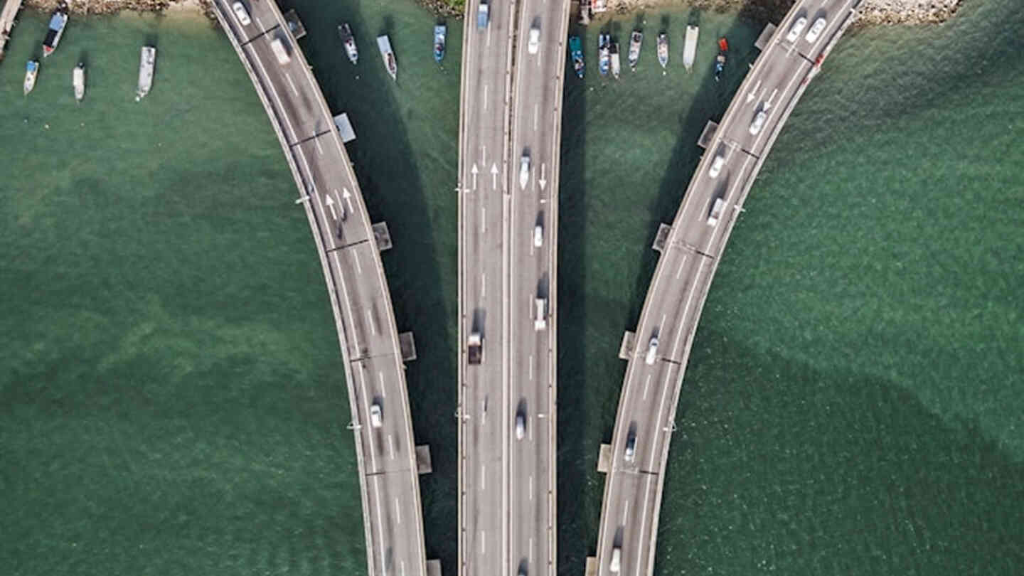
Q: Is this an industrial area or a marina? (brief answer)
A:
marina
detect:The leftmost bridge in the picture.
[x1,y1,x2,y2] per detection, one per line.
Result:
[208,0,444,576]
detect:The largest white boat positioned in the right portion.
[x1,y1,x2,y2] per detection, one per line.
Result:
[683,23,700,83]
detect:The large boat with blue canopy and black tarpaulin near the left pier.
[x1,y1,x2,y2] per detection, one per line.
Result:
[42,11,68,63]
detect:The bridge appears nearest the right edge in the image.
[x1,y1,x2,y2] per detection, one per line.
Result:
[584,0,867,576]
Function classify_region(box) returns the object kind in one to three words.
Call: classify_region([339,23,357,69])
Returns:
boat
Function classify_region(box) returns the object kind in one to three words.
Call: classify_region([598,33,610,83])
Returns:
boat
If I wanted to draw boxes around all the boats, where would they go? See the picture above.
[598,33,610,83]
[134,44,155,103]
[377,33,399,90]
[434,24,446,71]
[42,11,68,63]
[683,23,700,83]
[74,62,88,107]
[609,41,621,86]
[570,35,584,79]
[339,23,357,69]
[714,34,728,89]
[23,58,40,103]
[628,29,642,74]
[656,32,669,68]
